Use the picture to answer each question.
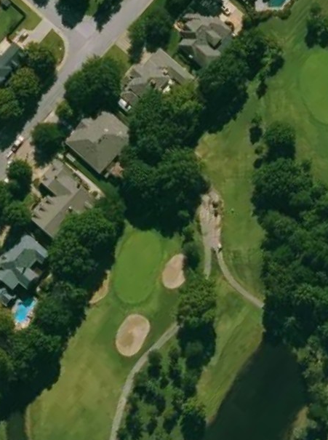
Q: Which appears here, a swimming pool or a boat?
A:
swimming pool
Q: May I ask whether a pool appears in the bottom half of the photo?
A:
Yes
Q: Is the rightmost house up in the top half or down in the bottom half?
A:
top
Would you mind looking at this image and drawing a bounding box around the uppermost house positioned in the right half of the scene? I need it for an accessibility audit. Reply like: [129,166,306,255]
[176,14,233,68]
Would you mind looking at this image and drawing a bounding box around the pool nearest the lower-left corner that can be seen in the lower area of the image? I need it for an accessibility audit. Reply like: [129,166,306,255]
[14,293,39,325]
